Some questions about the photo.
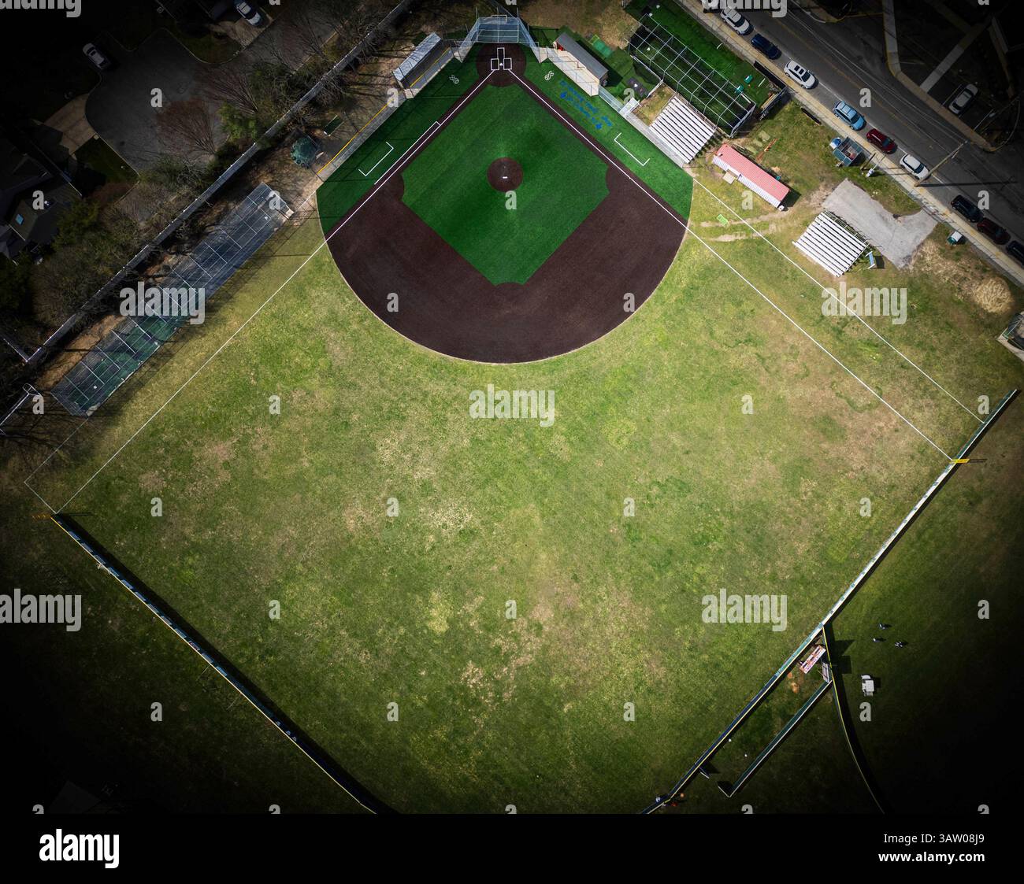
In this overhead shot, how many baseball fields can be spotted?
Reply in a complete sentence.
The count comes to 1 baseball field.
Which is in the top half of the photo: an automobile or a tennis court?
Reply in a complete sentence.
What appears in the top half of the photo is an automobile.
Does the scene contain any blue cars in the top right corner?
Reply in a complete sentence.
Yes, there is a blue car in the top right corner.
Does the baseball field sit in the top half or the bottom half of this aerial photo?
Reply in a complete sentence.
You can find the baseball field in the top half.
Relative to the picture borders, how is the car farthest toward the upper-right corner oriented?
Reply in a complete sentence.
What the image shows is the car farthest toward the upper-right corner lying diagonally.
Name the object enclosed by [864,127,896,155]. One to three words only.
car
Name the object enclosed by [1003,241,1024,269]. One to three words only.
car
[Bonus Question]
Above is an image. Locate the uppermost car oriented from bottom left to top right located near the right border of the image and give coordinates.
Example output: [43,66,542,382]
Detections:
[949,84,977,114]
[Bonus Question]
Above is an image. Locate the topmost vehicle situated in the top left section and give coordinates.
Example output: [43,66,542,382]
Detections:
[235,0,261,28]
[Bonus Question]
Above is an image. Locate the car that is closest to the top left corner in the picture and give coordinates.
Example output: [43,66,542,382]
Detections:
[86,42,109,71]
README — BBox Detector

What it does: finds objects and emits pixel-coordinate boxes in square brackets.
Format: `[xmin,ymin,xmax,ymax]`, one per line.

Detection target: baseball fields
[24,42,983,513]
